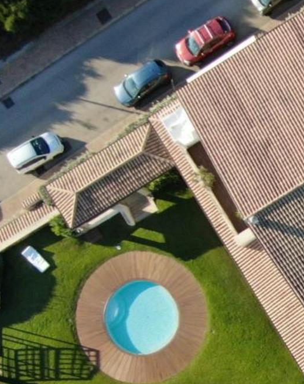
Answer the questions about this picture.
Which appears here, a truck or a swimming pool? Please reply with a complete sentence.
The image shows a swimming pool.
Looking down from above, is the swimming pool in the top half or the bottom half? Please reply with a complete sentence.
The bottom half of the photo is where the swimming pool is.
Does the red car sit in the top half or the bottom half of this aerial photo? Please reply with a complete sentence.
The top half of the photo is where the red car is.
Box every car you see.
[113,55,176,111]
[0,130,69,178]
[174,13,241,70]
[249,0,298,19]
